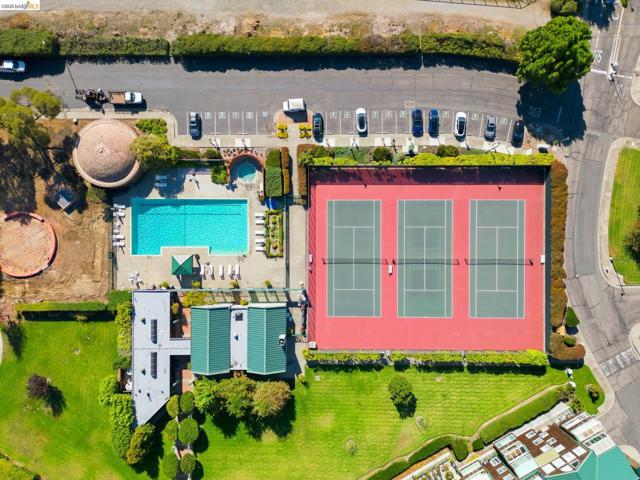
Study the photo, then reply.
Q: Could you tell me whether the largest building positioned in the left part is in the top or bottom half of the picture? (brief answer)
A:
bottom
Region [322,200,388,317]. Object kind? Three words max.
tennis court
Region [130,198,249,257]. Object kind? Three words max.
swimming pool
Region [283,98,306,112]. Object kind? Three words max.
vehicle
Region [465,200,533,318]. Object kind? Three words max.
tennis court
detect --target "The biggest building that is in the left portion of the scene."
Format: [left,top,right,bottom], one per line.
[132,290,287,429]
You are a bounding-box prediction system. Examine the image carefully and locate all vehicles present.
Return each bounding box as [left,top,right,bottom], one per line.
[283,98,306,112]
[428,110,440,134]
[412,109,424,134]
[0,59,24,71]
[511,119,526,145]
[312,112,324,136]
[188,111,200,136]
[454,112,466,136]
[356,108,367,132]
[485,115,497,139]
[108,91,142,104]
